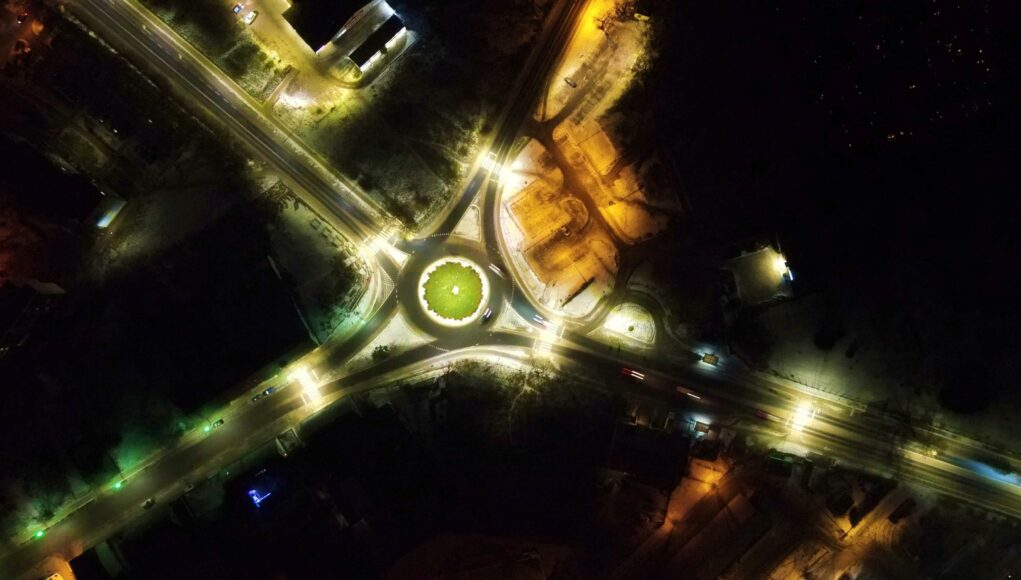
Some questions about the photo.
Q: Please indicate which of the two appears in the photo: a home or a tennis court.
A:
home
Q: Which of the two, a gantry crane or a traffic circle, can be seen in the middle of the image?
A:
traffic circle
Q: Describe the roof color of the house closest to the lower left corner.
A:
black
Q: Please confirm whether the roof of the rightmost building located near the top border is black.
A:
Yes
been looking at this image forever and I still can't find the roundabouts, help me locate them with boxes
[301,164,559,404]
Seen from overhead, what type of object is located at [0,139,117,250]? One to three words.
warehouse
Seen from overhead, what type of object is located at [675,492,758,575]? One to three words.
house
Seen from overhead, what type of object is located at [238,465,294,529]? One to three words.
house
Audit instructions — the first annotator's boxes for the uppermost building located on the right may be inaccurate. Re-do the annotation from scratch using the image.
[785,252,838,302]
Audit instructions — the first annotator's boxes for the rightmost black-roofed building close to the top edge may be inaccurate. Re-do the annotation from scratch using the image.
[281,0,382,57]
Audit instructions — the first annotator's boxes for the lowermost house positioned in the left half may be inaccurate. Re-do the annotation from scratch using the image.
[68,537,131,580]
